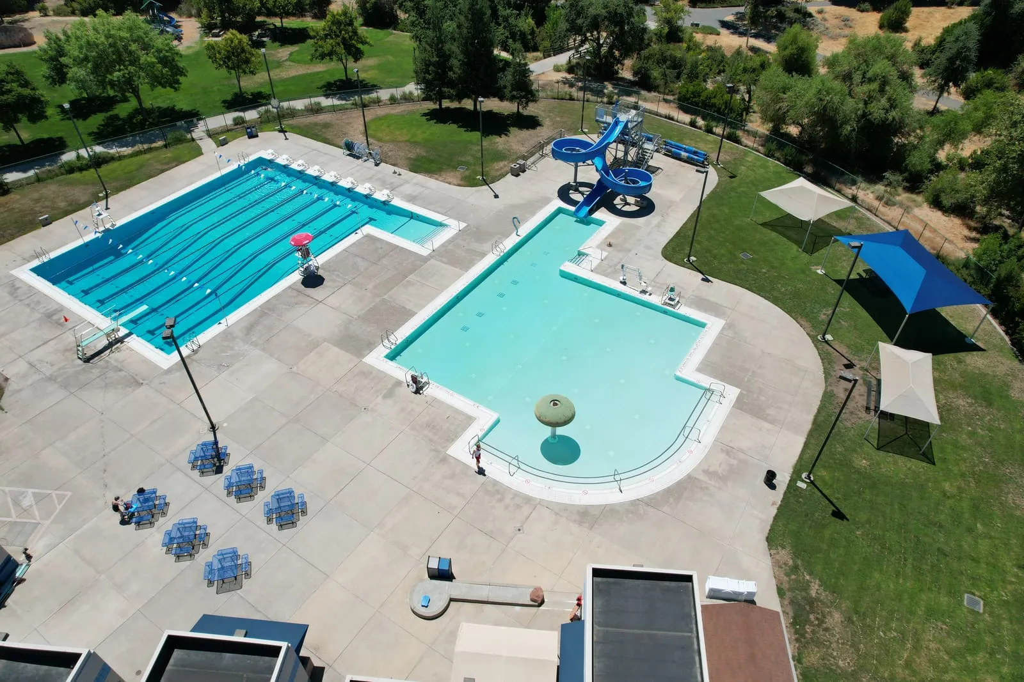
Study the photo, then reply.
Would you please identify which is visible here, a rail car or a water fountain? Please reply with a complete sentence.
There is a water fountain in the scene.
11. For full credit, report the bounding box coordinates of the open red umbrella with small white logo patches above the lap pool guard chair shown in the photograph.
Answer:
[287,233,318,254]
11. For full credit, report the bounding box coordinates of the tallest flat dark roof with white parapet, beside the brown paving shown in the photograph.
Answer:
[559,560,712,682]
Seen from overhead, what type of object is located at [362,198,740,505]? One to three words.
swimming pool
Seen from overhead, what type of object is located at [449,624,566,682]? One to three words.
building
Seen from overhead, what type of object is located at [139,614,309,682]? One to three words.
building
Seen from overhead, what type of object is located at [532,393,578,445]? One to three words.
fountain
